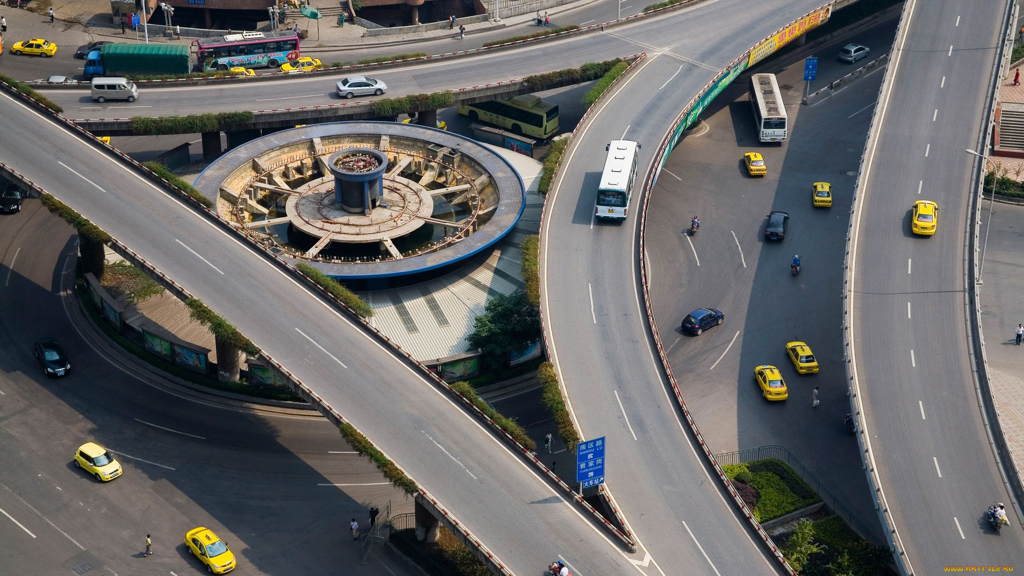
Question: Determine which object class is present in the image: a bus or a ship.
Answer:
bus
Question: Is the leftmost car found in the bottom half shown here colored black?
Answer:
Yes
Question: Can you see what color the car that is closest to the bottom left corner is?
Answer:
yellow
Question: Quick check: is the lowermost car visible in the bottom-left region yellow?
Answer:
Yes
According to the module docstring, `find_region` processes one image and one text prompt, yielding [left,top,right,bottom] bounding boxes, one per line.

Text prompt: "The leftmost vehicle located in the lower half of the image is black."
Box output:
[33,337,71,379]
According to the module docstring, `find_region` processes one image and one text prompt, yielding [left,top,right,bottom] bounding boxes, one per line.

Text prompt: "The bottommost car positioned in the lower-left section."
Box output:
[187,526,235,576]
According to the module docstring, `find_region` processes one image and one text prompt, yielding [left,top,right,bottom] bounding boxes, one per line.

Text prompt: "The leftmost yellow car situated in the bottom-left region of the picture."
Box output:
[72,439,120,482]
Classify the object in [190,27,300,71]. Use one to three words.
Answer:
bus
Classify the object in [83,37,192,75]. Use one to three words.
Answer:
truck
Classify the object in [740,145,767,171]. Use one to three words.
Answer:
car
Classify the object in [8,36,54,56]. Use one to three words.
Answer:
car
